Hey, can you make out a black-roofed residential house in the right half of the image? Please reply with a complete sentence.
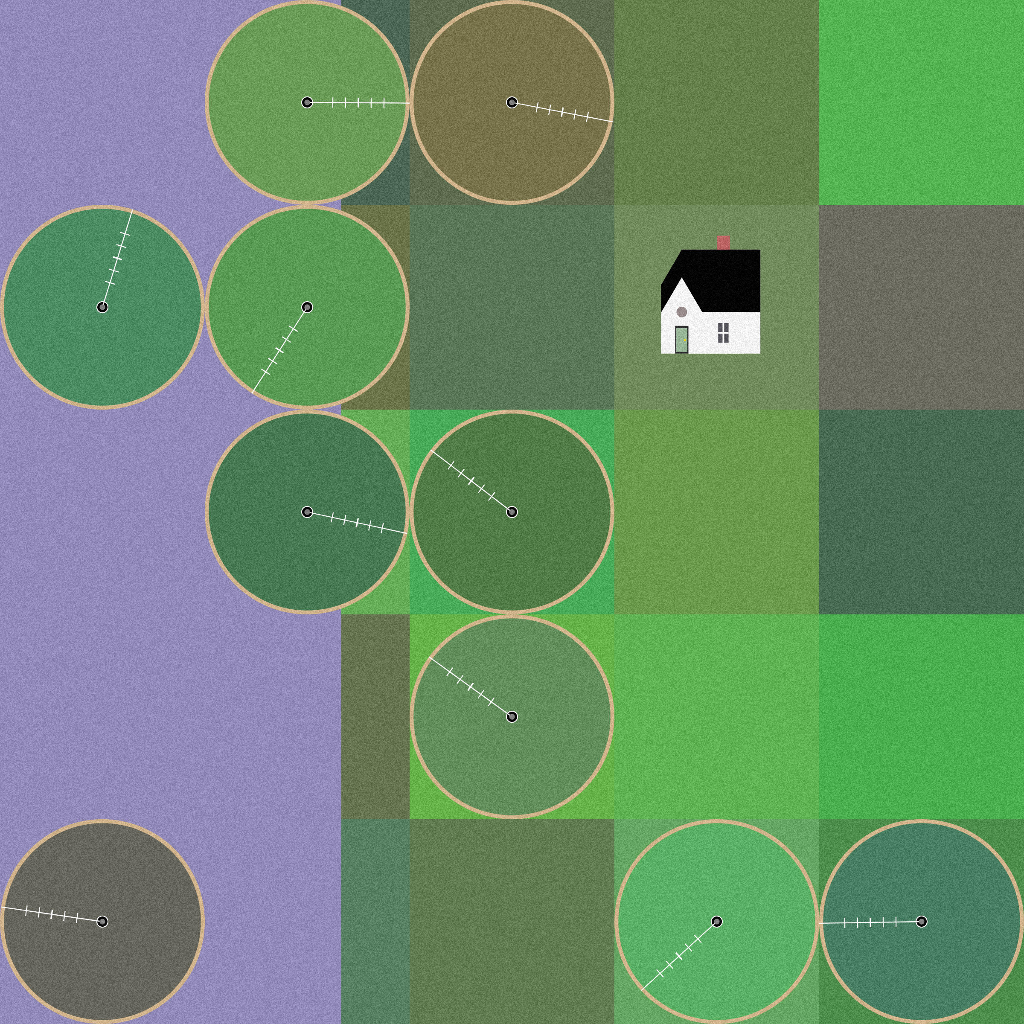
Yes, there is a black-roofed residential house in the right half of the image.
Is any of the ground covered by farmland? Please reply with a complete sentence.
Yes, farmland can be seen from above here.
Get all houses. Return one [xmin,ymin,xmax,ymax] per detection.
[661,236,761,354]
